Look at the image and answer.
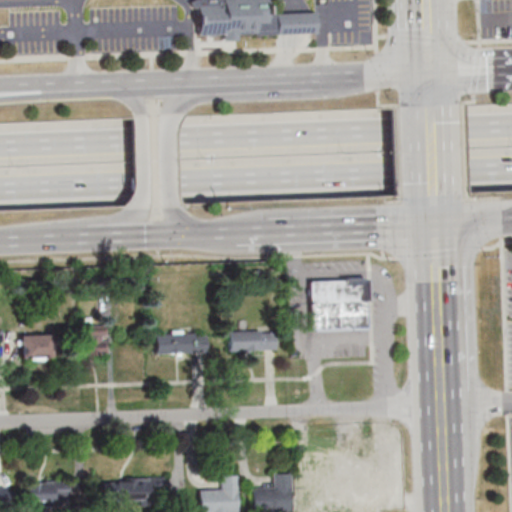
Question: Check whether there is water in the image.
No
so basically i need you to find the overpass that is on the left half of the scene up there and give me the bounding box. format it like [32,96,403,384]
[124,95,190,228]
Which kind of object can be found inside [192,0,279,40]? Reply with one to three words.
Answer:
building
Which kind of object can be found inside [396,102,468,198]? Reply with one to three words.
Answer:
overpass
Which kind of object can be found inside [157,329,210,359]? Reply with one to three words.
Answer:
house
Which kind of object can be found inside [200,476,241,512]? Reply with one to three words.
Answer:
house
